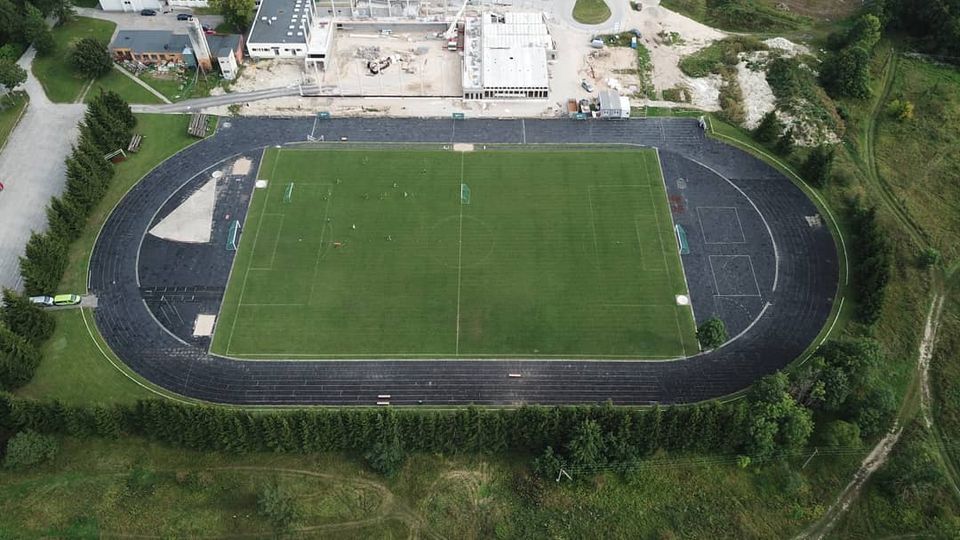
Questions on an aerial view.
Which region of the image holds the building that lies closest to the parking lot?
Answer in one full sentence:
The building that lies closest to the parking lot sits in the top left section of the image.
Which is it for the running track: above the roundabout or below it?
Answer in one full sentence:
Within the scene, the running track can be found below the roundabout.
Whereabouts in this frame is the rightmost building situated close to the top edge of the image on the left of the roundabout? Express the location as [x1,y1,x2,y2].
[464,10,558,100]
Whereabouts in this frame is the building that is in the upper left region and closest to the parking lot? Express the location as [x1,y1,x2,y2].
[111,29,197,64]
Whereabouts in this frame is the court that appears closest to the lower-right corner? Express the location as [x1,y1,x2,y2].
[709,255,761,314]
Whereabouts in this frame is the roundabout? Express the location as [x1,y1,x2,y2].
[562,0,622,31]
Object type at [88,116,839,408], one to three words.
running track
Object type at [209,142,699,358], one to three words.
soccer field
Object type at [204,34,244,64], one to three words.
building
